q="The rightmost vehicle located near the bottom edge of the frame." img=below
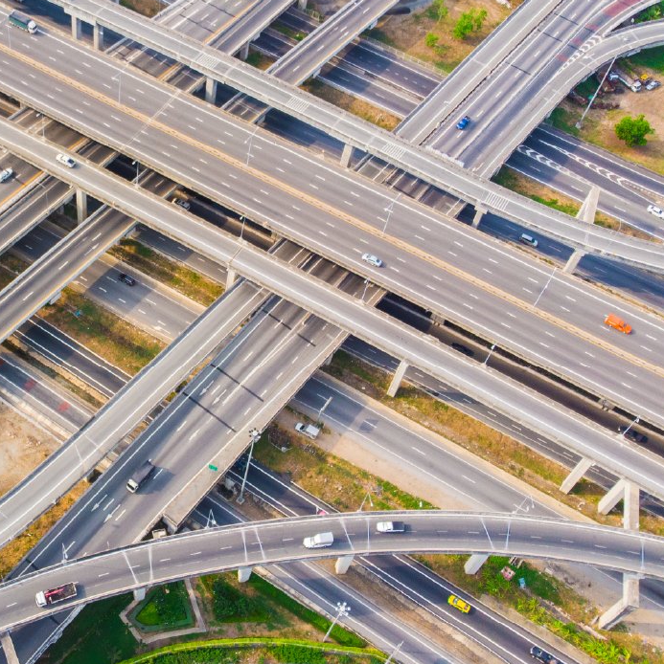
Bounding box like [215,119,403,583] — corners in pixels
[531,647,560,664]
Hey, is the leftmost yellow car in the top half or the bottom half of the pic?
bottom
